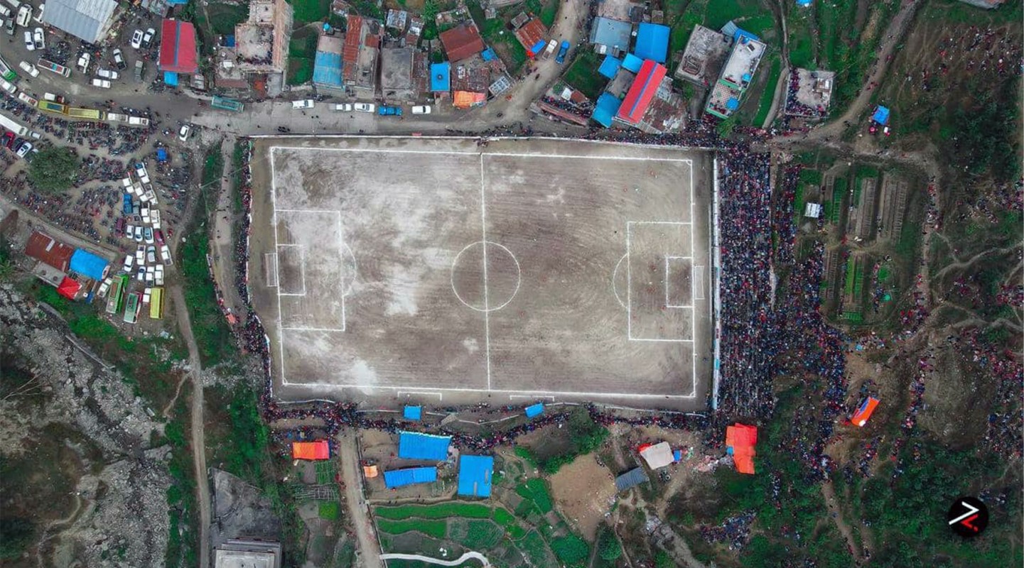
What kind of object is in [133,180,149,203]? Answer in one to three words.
vehicle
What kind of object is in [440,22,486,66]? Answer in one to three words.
house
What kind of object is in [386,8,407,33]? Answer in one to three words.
shed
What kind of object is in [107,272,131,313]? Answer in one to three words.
bus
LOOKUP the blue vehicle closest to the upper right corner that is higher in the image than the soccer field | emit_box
[555,40,569,65]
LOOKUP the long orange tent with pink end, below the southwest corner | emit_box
[292,438,332,459]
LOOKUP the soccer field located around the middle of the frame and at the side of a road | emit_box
[249,138,712,412]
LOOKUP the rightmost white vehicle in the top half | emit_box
[542,38,558,61]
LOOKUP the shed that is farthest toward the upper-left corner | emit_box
[42,0,124,45]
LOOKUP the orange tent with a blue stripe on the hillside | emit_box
[846,395,879,427]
